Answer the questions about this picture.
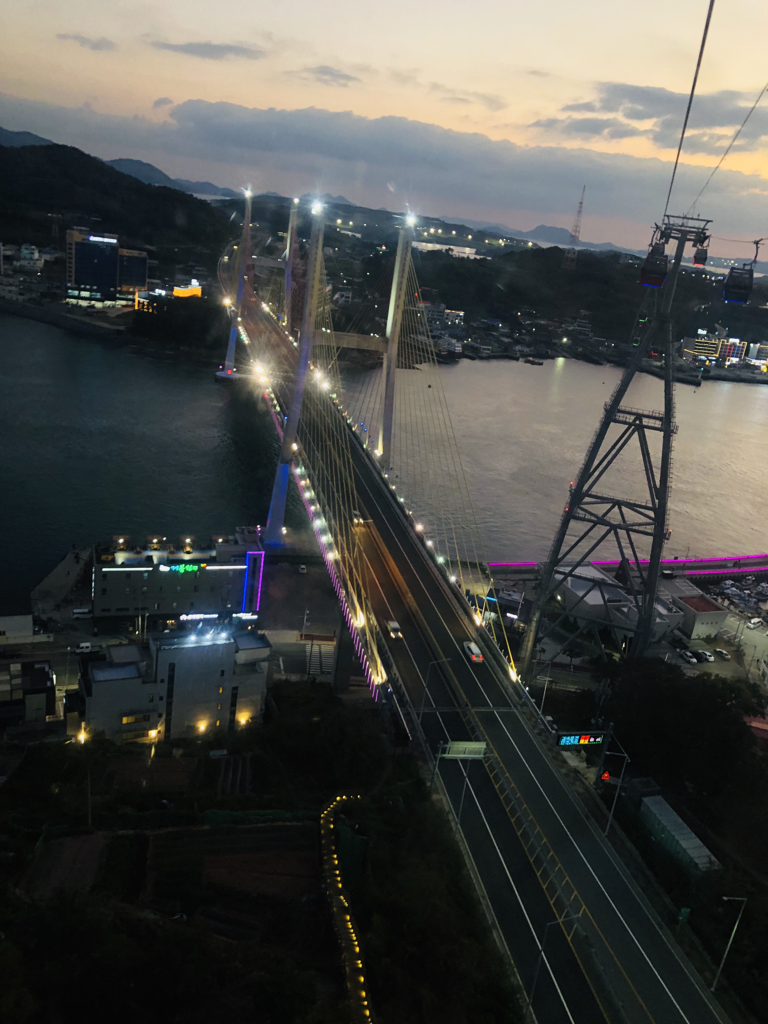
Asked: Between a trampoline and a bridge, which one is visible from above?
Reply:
bridge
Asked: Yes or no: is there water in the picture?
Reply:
Yes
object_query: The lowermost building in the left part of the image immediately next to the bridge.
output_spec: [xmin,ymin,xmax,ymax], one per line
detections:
[76,616,278,741]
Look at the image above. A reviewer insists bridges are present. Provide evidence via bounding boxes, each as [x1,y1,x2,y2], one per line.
[217,193,538,721]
